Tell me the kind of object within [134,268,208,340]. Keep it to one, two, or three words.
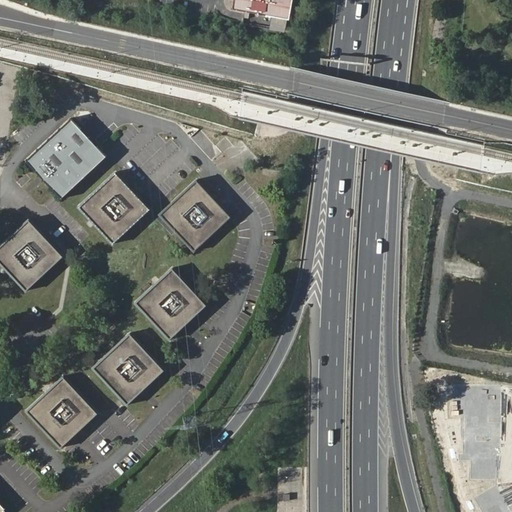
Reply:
building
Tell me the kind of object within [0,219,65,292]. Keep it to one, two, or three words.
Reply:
building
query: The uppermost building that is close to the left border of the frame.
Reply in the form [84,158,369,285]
[24,120,106,198]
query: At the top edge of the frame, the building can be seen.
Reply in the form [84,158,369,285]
[232,0,292,34]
